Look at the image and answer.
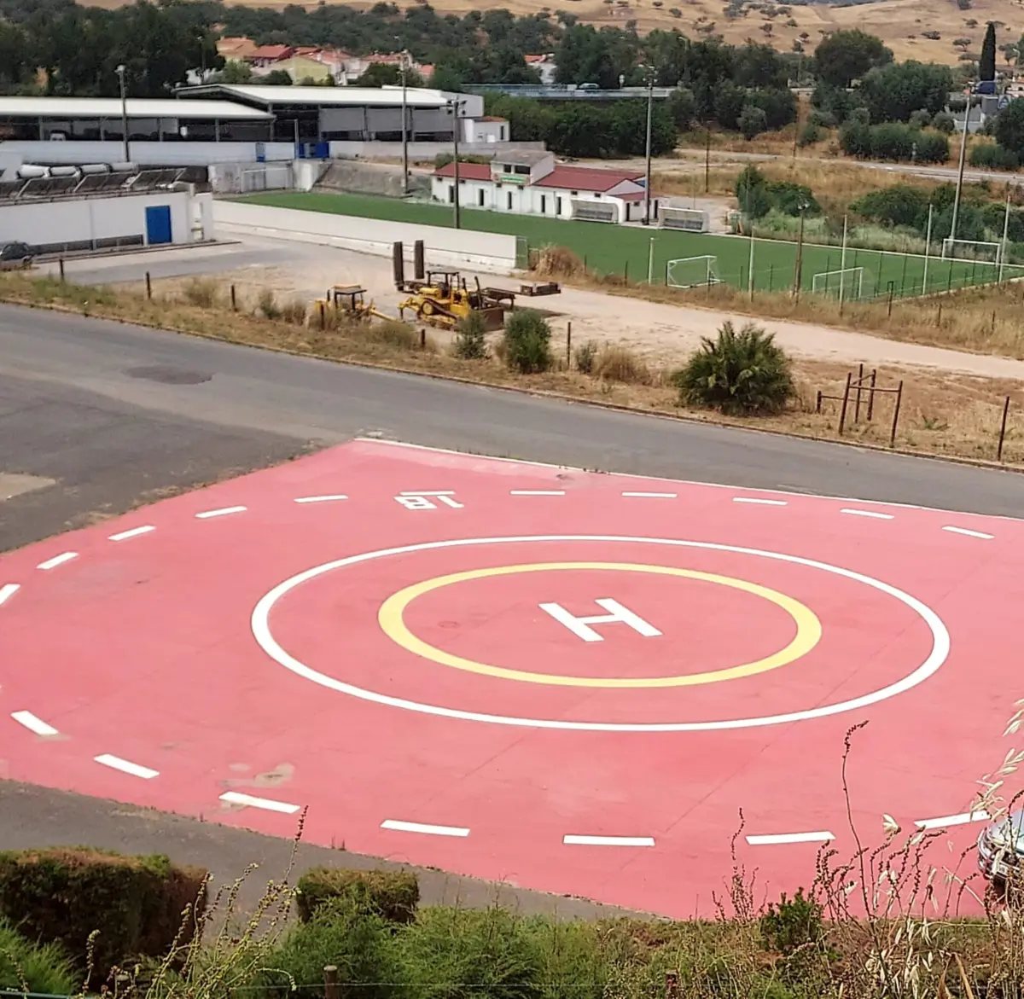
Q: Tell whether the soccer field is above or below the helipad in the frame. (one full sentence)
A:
It's above the helipad that the soccer field shows up.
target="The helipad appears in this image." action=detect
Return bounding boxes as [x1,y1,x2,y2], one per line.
[0,438,1024,951]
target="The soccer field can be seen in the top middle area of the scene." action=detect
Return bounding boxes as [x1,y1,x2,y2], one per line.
[205,189,1024,309]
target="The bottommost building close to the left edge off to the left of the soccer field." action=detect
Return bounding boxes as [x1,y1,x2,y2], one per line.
[0,188,210,249]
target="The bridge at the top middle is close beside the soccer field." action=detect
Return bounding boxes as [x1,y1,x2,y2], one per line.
[443,76,699,105]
